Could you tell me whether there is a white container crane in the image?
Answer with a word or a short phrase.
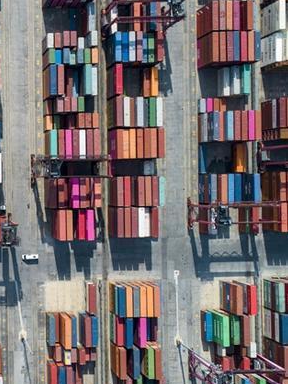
No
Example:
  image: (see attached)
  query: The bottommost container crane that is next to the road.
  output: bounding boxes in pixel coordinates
[187,347,288,384]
